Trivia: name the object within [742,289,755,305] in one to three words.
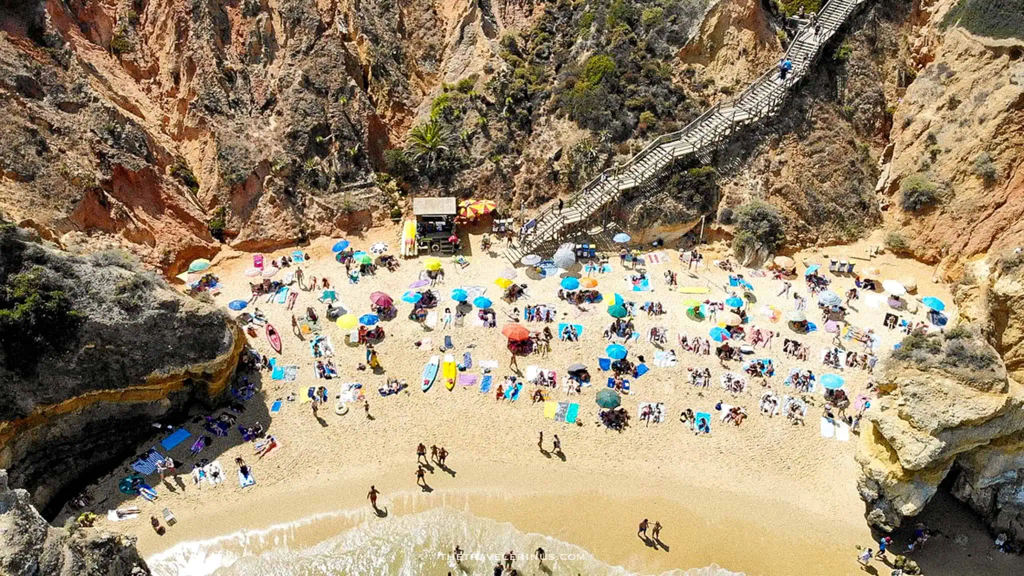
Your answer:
umbrella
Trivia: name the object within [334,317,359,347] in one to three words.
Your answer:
umbrella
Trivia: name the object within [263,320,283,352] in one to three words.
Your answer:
boat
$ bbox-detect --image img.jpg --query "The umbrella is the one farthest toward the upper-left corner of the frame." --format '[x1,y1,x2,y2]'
[193,256,212,287]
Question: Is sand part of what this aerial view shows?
Yes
